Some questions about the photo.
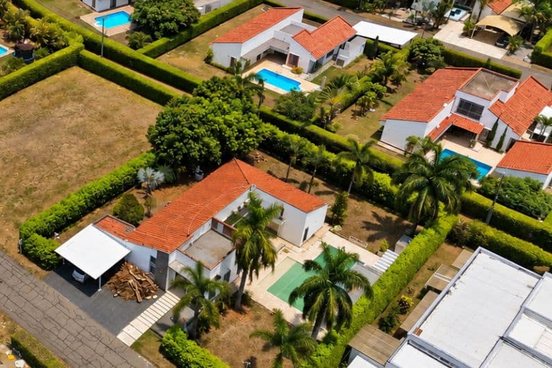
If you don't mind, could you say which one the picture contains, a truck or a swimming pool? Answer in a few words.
swimming pool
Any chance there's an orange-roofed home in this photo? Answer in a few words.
Yes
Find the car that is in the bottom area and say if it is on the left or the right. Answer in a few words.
left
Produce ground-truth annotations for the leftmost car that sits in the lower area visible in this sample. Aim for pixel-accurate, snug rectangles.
[62,263,92,287]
